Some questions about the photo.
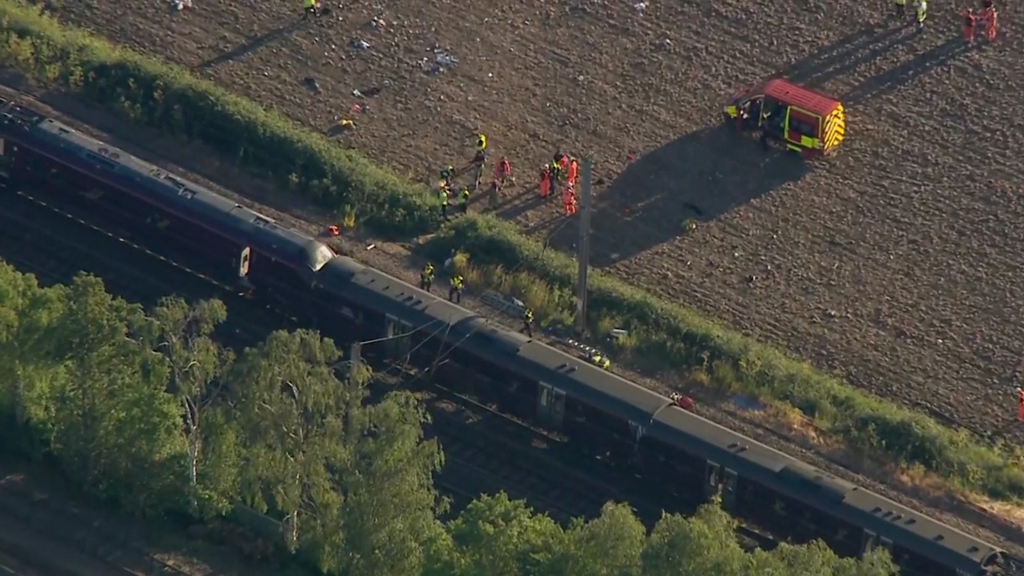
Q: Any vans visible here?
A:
Yes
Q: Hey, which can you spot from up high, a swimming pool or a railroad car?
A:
railroad car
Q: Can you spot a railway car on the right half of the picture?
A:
Yes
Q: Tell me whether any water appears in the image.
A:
No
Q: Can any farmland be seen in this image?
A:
Yes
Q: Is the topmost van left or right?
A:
right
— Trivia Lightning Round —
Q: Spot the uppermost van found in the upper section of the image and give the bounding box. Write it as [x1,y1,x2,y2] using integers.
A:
[721,78,844,151]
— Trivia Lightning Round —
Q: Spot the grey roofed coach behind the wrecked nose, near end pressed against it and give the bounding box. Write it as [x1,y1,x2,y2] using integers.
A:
[304,257,671,471]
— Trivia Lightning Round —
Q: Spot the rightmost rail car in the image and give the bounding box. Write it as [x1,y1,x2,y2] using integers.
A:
[642,404,1004,576]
